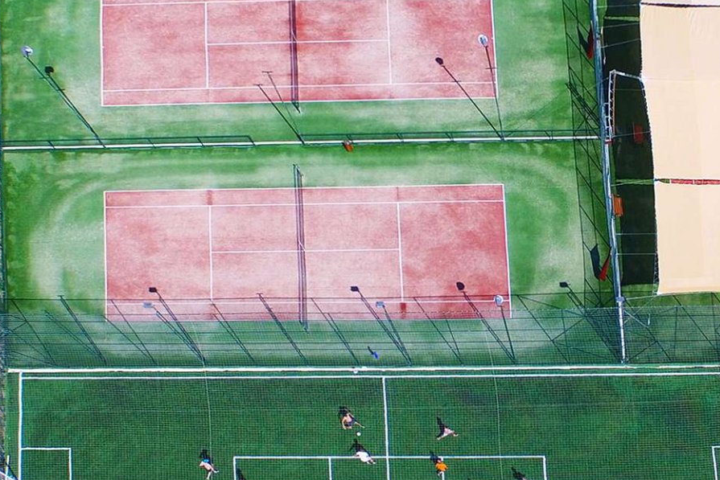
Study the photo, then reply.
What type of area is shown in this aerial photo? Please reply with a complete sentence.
The area seen from above is a sports ground.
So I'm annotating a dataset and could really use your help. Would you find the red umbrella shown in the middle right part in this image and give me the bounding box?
[598,255,610,282]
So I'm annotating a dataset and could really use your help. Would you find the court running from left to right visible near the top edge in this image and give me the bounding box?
[0,0,599,146]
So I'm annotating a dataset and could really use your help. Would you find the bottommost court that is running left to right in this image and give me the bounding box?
[2,139,618,367]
